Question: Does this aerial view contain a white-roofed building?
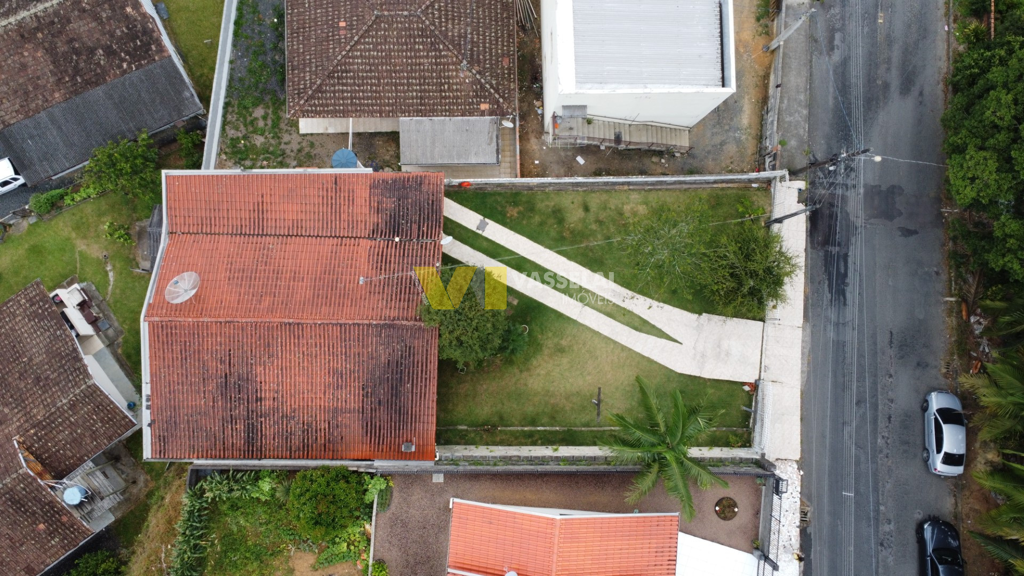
Yes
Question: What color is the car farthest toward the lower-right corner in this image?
black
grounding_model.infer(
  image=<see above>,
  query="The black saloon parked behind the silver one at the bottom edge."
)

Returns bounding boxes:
[918,518,966,576]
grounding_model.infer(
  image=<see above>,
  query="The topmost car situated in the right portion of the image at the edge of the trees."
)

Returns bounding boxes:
[921,391,969,478]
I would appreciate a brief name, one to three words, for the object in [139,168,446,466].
house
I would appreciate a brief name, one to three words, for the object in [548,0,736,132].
building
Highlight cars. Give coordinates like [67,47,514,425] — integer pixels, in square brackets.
[921,391,969,478]
[0,152,22,192]
[918,518,966,576]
